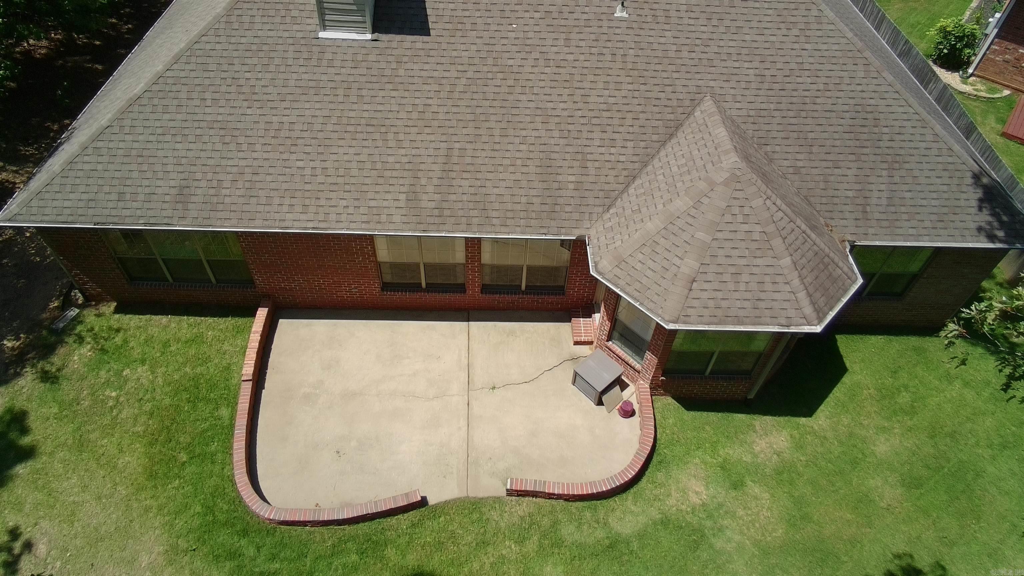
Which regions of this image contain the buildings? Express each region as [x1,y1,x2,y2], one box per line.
[0,0,1024,399]
[970,0,1024,93]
